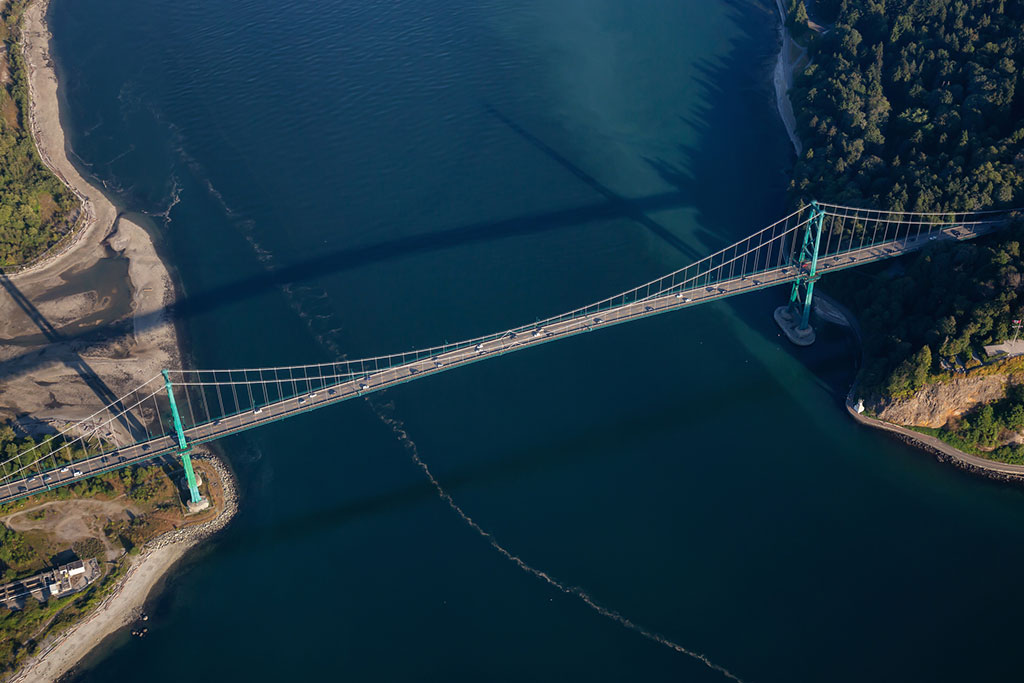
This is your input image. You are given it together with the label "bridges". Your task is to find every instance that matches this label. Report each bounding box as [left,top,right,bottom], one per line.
[0,201,1024,508]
